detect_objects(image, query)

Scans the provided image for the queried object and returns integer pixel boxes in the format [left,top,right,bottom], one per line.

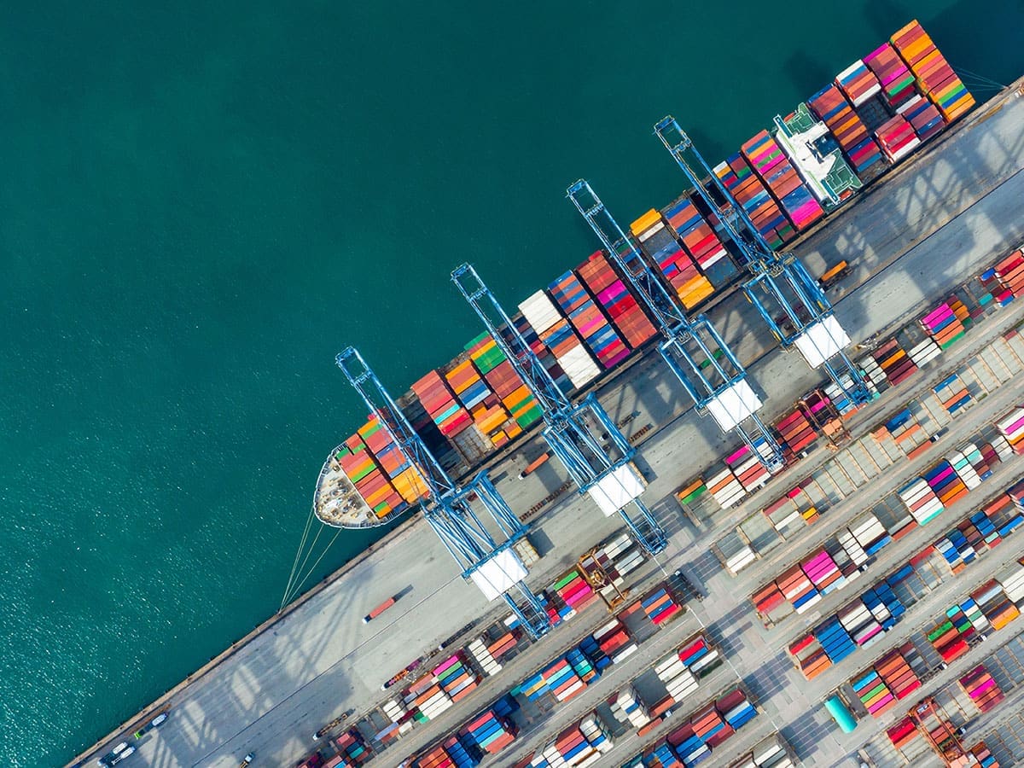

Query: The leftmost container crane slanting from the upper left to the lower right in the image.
[331,343,556,641]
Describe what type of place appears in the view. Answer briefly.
port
